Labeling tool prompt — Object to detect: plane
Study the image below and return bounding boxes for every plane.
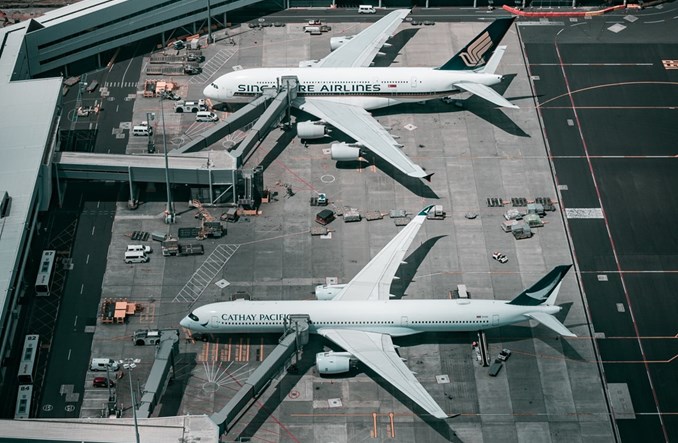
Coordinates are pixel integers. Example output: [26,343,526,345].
[179,205,577,417]
[203,3,522,179]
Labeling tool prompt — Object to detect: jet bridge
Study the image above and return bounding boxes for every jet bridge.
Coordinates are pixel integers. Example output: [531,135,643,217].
[215,317,312,443]
[123,334,186,418]
[166,88,278,152]
[229,75,303,199]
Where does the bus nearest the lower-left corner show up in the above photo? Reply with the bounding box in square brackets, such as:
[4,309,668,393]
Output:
[11,387,33,418]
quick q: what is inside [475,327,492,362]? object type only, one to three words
work vehicle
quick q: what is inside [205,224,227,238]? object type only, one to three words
vehicle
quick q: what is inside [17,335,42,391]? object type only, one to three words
bus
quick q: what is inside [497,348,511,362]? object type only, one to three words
vehicle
